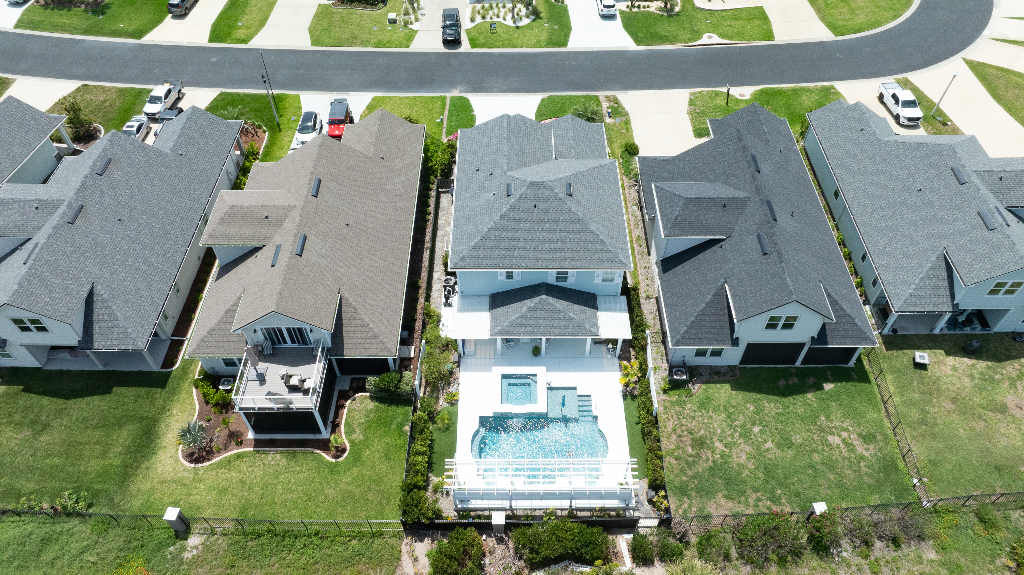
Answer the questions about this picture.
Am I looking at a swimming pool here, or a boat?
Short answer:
swimming pool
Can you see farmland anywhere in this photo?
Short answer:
No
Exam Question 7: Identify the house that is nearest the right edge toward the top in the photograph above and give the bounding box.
[805,99,1024,334]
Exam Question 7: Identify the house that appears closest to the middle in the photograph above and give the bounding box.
[446,115,634,357]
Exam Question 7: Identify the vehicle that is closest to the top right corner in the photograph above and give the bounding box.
[876,82,925,126]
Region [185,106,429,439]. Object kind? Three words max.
house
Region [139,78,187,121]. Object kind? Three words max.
truck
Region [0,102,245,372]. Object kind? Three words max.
house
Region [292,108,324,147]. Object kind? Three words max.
car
